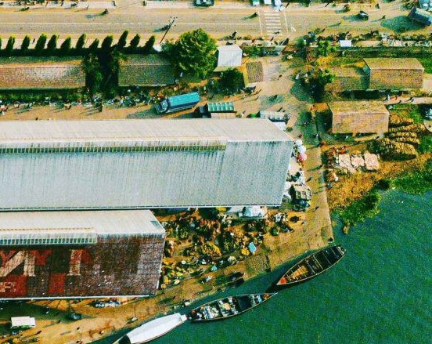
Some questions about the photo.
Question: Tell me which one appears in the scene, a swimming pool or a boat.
boat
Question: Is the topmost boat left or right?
right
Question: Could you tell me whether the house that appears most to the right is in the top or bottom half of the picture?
top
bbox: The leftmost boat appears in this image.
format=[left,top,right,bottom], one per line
[113,310,191,344]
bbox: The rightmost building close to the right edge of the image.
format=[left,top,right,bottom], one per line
[358,58,424,99]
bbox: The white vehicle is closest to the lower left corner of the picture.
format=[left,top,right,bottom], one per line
[10,314,39,330]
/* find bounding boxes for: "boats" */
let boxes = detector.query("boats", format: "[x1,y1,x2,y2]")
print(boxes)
[274,244,348,287]
[189,290,280,316]
[113,310,191,344]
